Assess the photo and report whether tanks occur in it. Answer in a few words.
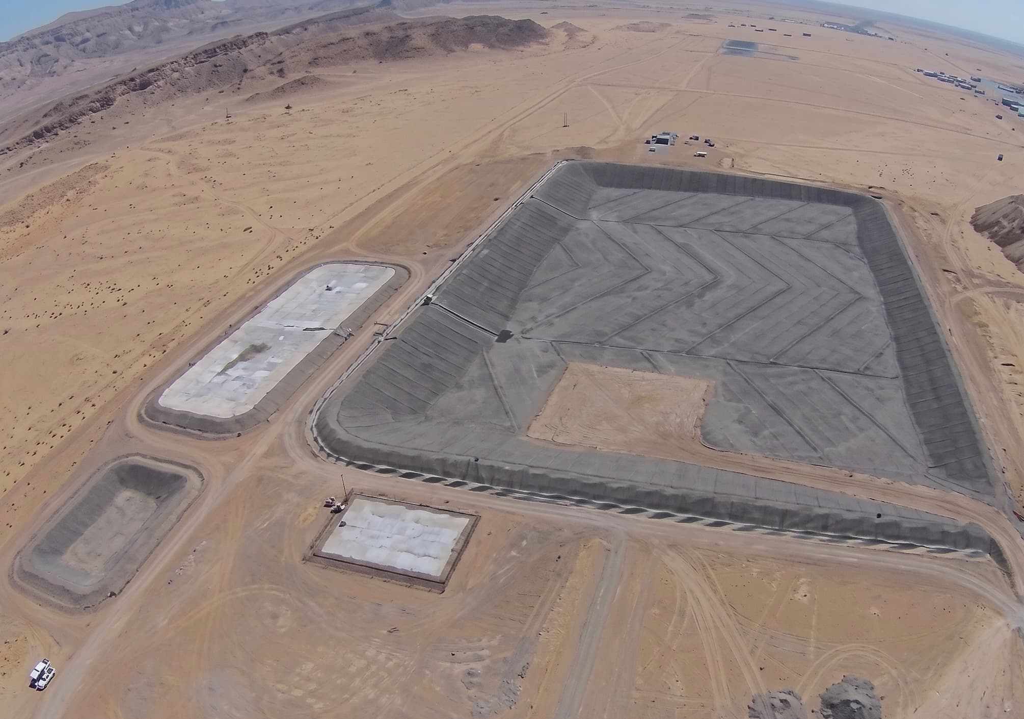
Yes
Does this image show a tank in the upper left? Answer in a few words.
No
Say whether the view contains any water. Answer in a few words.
Yes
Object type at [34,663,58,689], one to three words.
truck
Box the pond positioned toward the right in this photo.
[313,161,1018,599]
